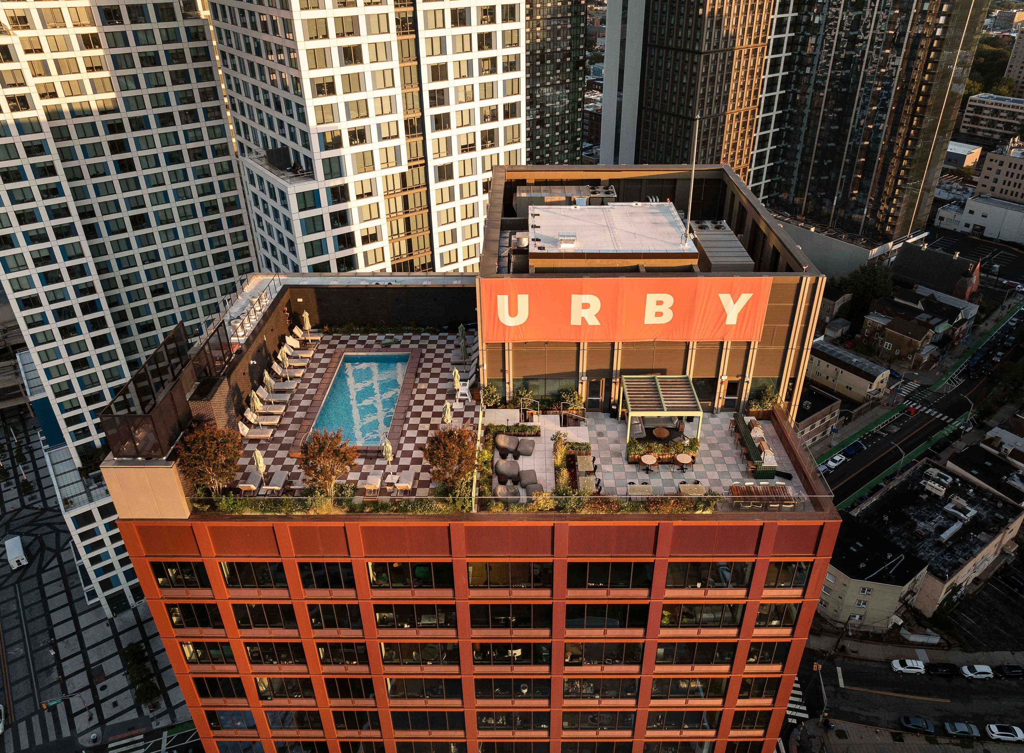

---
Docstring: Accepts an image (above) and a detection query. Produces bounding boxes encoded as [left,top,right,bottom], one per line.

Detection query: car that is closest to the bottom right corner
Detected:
[983,721,1024,742]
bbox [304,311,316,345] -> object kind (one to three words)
umbrella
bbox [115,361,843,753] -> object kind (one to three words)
building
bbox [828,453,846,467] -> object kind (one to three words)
car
